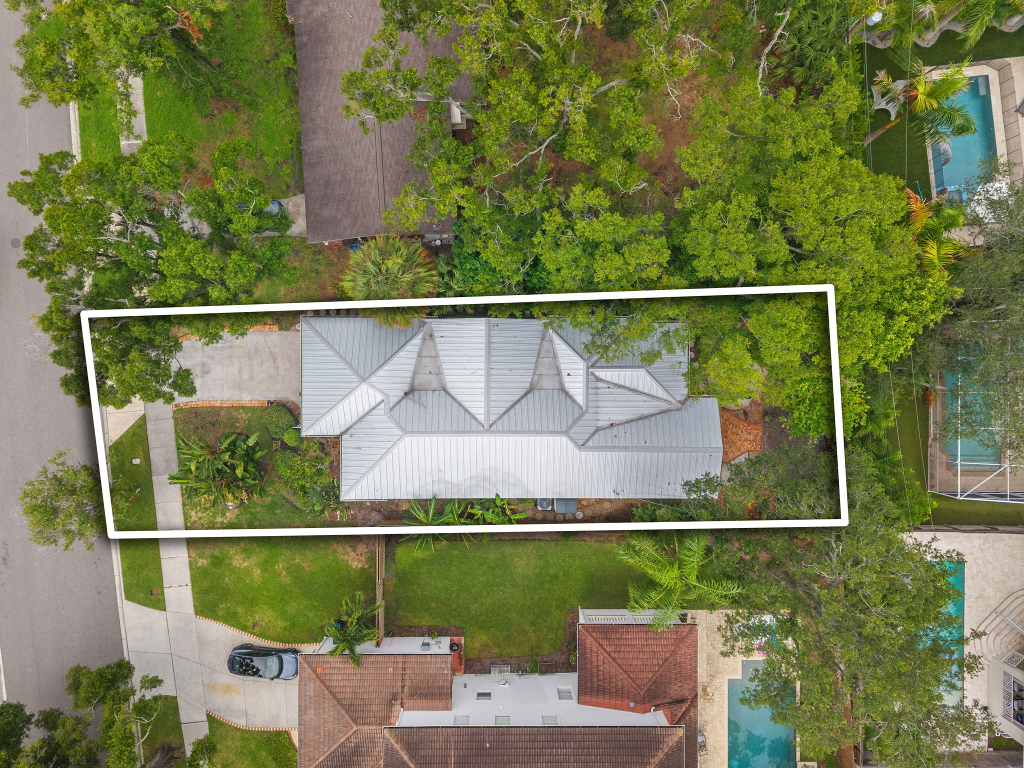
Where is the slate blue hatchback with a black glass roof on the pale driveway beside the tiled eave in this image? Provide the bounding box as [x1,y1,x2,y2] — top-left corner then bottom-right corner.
[222,645,295,689]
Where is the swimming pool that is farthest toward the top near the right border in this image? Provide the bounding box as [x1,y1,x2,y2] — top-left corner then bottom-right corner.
[924,66,1013,217]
